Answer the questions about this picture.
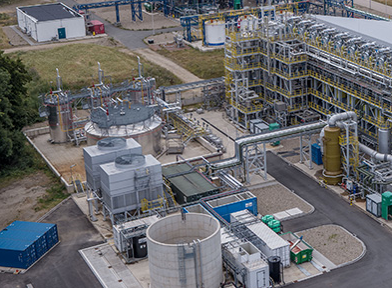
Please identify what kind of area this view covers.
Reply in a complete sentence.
It's an industrial area.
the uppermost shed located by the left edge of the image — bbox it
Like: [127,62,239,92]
[16,2,110,43]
